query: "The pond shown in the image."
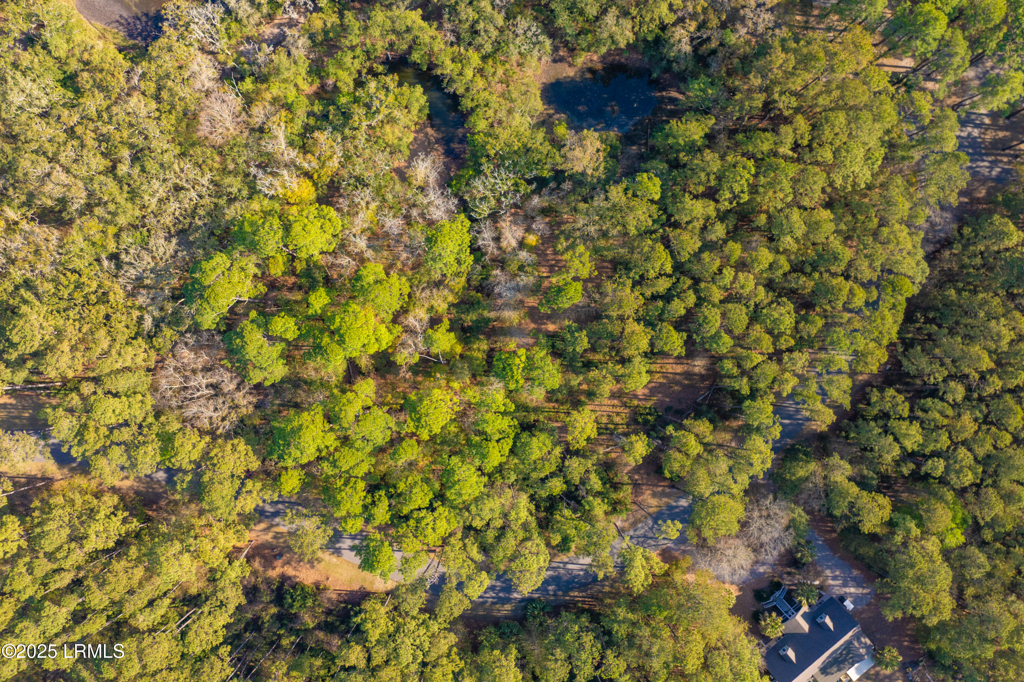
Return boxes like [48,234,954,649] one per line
[545,65,657,131]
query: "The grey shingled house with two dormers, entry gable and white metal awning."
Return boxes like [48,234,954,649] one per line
[758,588,877,682]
